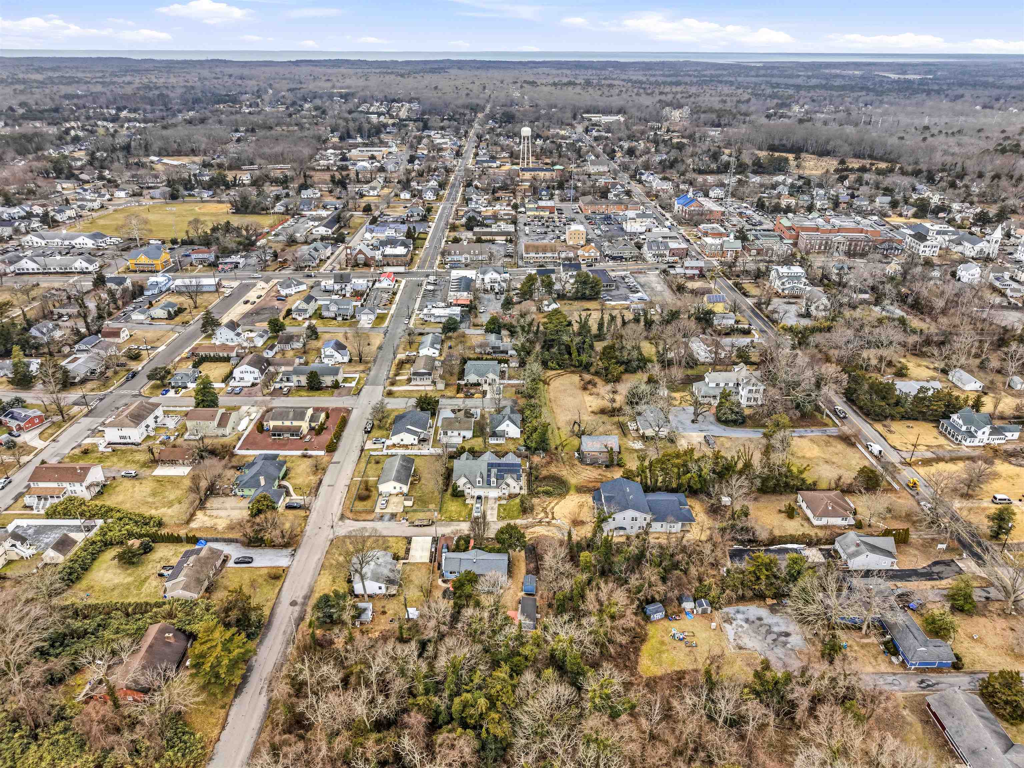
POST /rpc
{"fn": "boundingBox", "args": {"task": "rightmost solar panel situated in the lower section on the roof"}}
[490,462,519,477]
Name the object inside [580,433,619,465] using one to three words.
barn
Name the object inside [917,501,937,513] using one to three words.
vehicle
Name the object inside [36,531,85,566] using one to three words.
building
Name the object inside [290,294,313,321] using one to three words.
house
